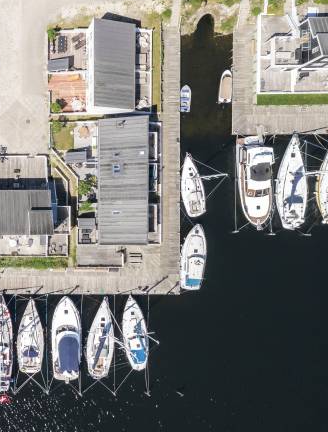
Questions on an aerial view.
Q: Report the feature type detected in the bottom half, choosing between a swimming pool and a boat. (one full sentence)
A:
The one visible in the bottom half is a boat.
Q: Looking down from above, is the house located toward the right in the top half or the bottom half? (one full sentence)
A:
It is in the top half that the house located toward the right appears.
